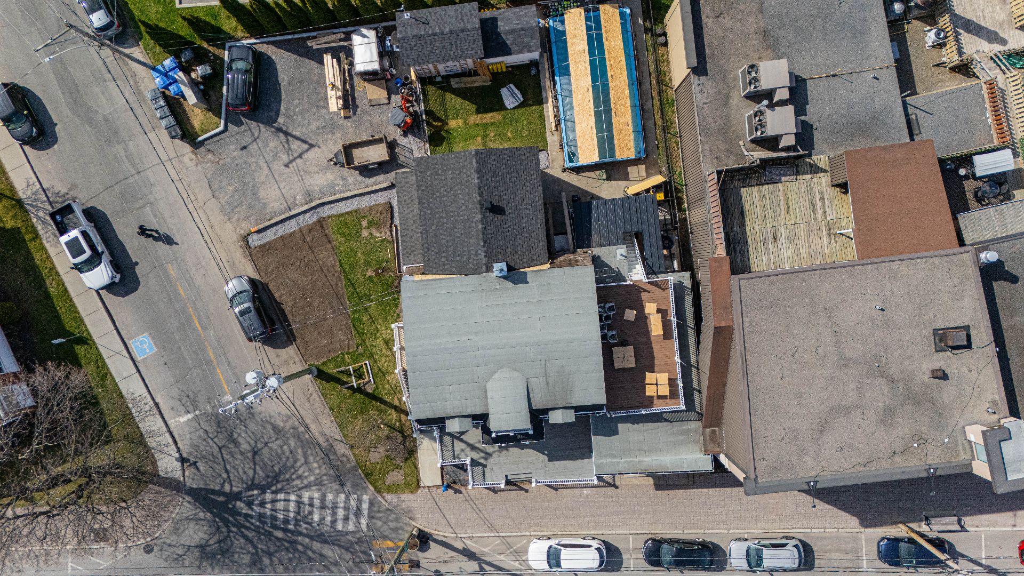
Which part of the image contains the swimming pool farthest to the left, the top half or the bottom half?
top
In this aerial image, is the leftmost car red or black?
black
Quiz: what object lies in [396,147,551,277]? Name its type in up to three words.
house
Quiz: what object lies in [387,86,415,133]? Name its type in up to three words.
work vehicle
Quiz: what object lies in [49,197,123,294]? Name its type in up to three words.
truck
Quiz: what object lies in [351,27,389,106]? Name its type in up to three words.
trailer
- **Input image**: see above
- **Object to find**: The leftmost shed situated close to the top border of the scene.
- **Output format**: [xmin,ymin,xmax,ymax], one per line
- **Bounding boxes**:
[396,2,484,81]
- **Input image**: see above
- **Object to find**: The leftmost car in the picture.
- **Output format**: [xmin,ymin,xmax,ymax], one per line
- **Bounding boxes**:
[0,69,42,146]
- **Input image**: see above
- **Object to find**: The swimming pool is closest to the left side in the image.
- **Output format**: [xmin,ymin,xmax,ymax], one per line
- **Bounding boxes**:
[547,7,647,170]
